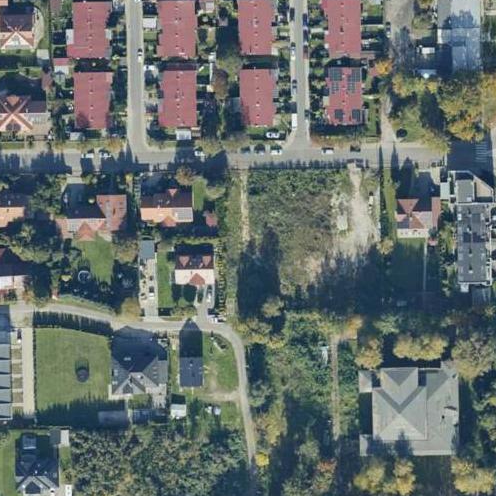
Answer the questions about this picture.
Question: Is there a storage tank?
No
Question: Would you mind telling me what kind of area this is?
residential area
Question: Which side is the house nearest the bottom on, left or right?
left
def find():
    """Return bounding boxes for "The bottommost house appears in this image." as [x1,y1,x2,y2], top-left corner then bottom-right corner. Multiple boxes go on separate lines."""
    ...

[15,449,59,496]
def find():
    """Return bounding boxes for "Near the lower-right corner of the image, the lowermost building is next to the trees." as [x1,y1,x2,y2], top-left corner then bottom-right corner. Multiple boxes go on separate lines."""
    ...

[360,362,458,456]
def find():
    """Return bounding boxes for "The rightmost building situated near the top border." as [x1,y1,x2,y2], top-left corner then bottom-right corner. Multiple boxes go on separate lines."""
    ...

[437,0,480,70]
